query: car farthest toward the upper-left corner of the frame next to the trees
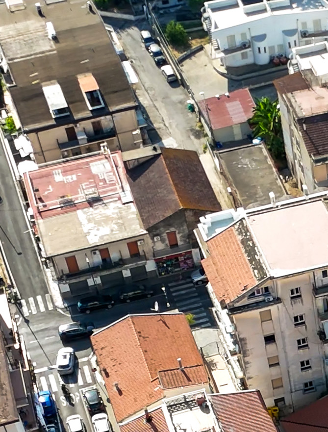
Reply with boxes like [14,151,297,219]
[139,31,157,47]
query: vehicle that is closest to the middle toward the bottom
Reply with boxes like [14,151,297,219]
[187,268,205,286]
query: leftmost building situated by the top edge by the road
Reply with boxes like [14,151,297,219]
[0,0,144,168]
